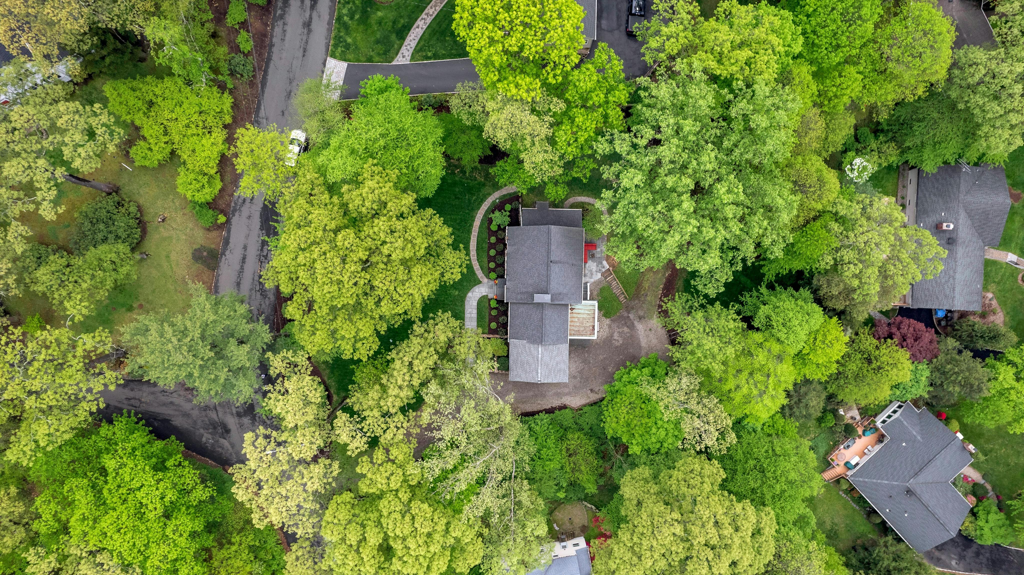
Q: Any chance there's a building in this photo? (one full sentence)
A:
Yes, the frame does contain a building.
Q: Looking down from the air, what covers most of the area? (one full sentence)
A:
The bulk of the photo consists of trees.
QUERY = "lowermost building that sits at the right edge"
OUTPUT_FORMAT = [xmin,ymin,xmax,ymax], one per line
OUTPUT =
[838,391,979,552]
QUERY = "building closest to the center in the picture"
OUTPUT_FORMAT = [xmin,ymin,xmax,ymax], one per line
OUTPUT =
[497,202,585,383]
